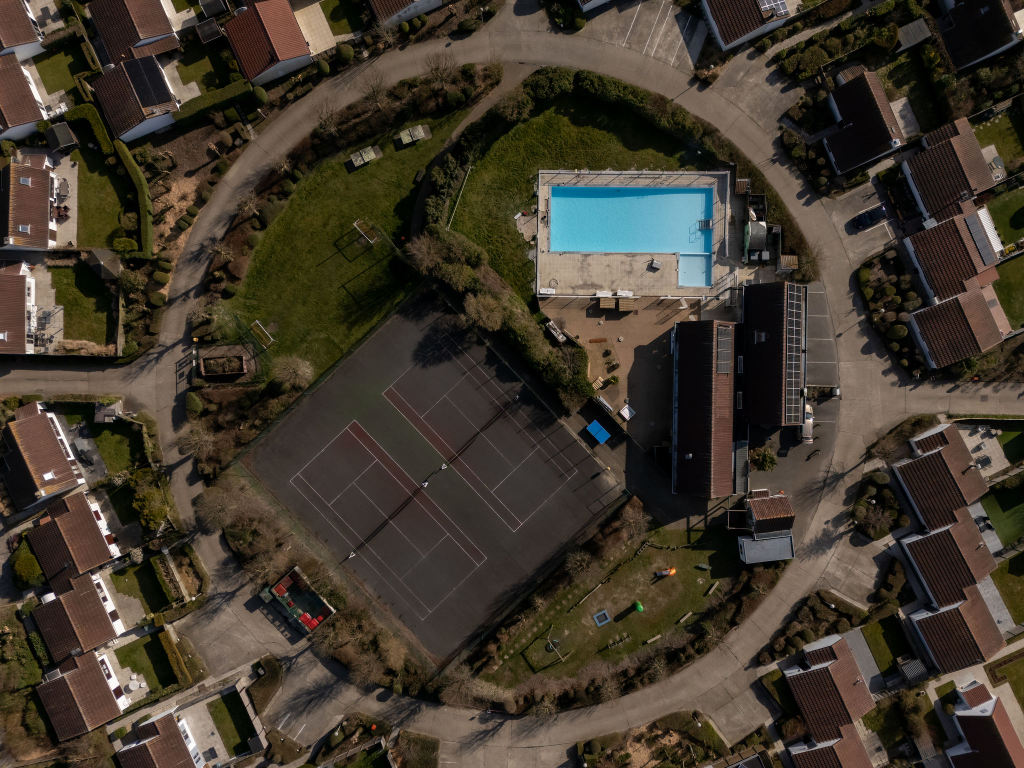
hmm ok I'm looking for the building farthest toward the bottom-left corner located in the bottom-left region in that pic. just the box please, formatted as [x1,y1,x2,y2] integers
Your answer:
[36,644,131,741]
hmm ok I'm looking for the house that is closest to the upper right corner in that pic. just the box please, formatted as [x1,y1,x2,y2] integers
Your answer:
[929,0,1023,71]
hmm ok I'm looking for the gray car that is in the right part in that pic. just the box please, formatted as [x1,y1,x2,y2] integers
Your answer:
[799,405,819,443]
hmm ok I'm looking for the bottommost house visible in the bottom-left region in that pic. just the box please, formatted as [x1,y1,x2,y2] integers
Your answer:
[120,705,209,768]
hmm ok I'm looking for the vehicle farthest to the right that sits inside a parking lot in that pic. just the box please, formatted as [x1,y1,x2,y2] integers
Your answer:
[850,205,888,231]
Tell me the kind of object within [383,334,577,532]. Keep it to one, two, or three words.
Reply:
tennis court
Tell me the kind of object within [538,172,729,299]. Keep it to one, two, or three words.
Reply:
swimming pool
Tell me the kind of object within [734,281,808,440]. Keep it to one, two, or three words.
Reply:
building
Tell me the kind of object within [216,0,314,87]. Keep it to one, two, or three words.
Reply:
house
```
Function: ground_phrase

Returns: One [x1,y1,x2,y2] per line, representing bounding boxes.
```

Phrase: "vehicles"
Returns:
[799,405,819,443]
[850,205,888,231]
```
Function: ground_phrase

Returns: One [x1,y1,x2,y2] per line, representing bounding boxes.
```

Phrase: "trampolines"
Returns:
[592,608,613,629]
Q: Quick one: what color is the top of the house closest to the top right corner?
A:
black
